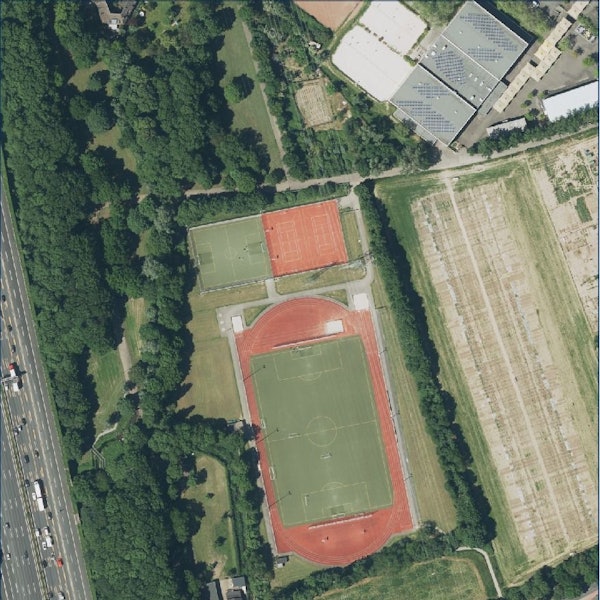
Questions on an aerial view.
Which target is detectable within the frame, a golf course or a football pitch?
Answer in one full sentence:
The image shows a football pitch.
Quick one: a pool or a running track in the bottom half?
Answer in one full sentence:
You can see a running track in the bottom half.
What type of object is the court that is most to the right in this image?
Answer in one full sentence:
It turns out the court that is most to the right is a tennis court.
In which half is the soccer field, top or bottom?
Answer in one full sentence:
You can find the soccer field in the bottom half.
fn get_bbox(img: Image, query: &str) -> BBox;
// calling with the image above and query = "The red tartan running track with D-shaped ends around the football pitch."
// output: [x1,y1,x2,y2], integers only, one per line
[234,296,413,566]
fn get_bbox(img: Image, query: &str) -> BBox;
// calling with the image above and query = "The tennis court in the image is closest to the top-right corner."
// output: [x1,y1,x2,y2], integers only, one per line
[262,200,347,276]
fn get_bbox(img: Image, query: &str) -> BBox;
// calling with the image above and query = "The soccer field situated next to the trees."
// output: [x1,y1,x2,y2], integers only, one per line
[251,336,393,527]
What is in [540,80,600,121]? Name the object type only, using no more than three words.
building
